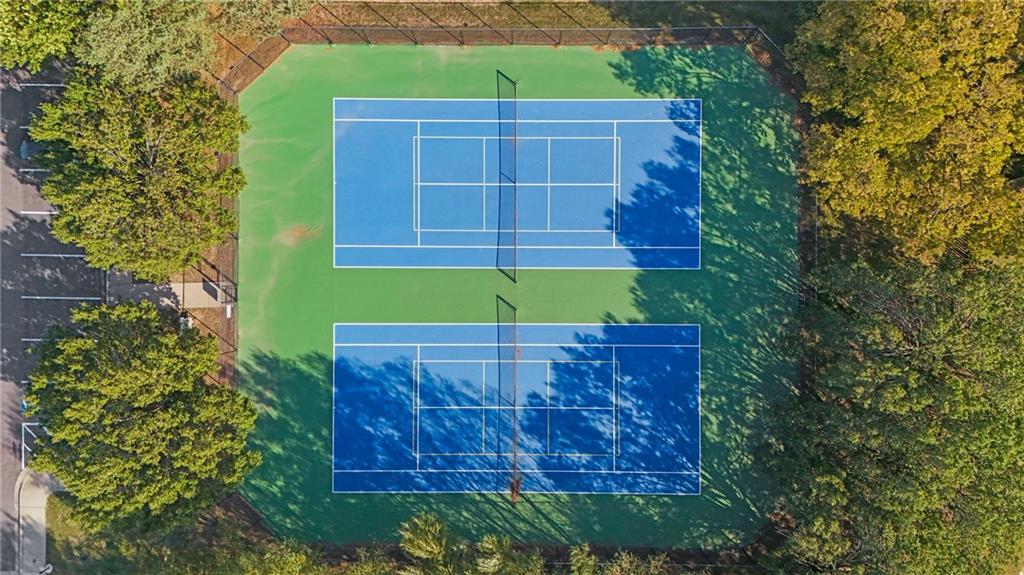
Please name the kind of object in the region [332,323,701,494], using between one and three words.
tennis court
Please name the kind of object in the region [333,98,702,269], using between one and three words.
tennis court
